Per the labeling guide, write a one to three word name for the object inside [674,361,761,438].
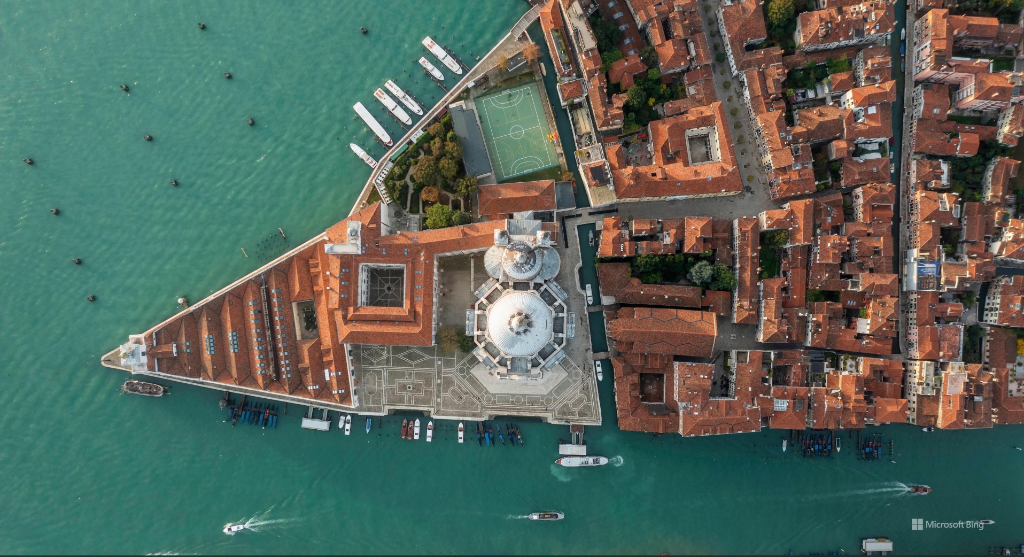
building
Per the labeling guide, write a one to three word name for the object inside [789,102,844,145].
house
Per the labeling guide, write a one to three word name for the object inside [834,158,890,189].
house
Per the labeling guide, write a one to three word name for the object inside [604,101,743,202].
building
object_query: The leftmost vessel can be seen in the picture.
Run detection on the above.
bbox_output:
[120,379,167,396]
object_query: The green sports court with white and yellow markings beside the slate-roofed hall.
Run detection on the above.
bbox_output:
[476,82,560,182]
